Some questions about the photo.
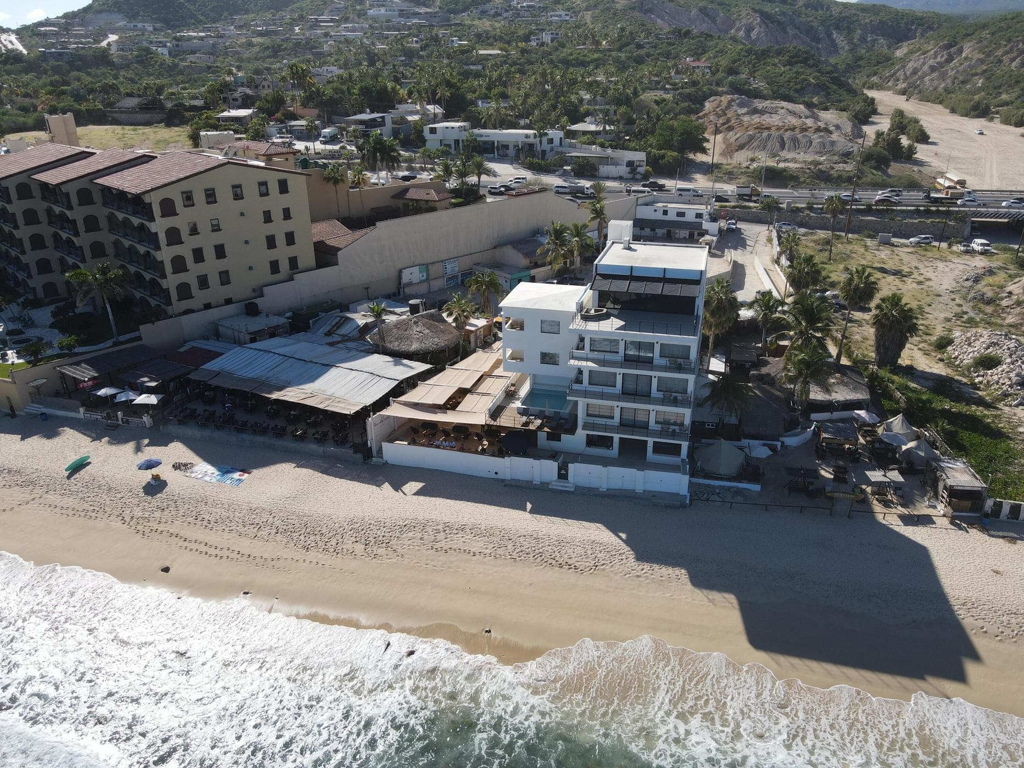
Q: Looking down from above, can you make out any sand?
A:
Yes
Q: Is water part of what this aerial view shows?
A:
Yes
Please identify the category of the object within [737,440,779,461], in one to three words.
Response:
umbrella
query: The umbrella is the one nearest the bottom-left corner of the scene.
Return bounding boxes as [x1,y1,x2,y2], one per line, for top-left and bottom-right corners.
[132,458,162,472]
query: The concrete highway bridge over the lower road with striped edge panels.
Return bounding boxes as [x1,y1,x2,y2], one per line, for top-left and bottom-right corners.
[929,191,1024,242]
